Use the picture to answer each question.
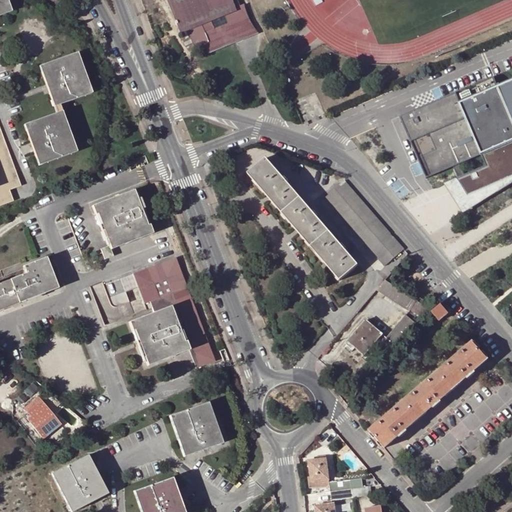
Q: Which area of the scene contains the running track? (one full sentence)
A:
You can find the running track in the top right area of the picture.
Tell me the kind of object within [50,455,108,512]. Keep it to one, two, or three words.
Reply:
building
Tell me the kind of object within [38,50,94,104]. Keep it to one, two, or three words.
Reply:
building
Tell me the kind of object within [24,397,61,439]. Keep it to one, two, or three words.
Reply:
house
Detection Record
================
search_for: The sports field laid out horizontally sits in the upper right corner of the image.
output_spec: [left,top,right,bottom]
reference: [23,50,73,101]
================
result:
[362,0,496,45]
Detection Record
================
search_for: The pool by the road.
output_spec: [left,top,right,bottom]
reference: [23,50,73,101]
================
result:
[338,448,366,473]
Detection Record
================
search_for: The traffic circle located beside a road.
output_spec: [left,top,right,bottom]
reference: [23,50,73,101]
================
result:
[251,367,330,449]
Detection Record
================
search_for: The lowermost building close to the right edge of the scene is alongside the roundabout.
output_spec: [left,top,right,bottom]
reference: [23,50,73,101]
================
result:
[367,339,486,446]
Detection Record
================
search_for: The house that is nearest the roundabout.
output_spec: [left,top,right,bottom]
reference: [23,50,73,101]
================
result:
[306,456,329,488]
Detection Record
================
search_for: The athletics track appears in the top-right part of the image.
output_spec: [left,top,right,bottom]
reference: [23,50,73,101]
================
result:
[294,0,512,64]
